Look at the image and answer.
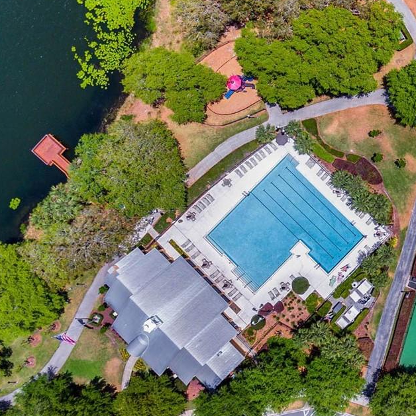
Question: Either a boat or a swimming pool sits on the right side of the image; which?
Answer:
swimming pool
